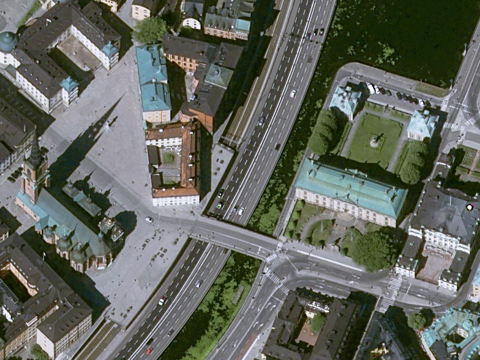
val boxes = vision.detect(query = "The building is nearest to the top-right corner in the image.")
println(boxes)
[405,102,440,145]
